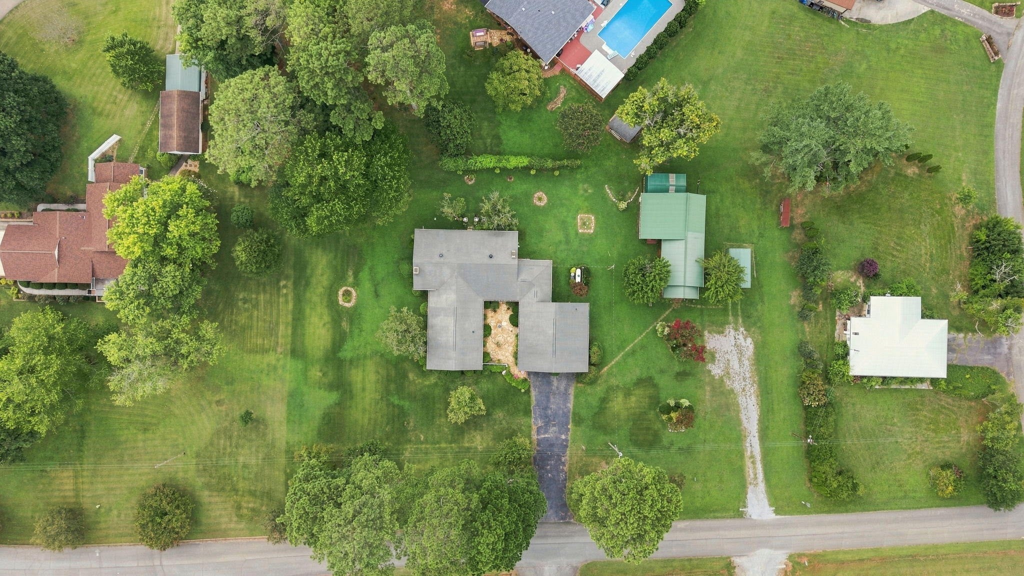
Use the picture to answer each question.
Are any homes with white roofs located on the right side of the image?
Yes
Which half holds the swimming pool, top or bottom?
top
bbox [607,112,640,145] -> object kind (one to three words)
shed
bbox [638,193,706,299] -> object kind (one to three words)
barn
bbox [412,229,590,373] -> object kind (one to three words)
house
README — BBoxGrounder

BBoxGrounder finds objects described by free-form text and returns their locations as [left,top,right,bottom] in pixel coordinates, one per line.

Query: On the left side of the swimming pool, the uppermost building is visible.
[479,0,596,66]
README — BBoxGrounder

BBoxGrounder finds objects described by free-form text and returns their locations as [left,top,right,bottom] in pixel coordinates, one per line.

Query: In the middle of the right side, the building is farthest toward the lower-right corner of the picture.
[839,296,948,378]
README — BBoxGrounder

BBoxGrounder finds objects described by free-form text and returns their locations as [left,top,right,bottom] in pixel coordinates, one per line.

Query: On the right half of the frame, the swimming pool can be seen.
[598,0,676,59]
